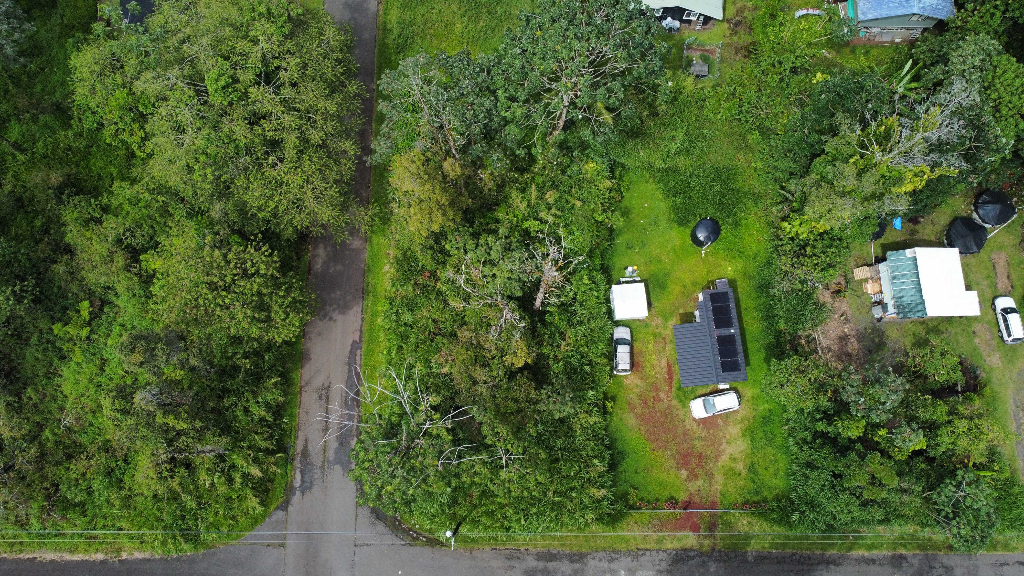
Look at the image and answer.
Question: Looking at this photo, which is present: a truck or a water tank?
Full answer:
I can see a water tank in this picture.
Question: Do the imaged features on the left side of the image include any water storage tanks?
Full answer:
No, the scene shows no water storage tank on the left side of the image.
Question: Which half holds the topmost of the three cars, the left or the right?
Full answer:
You can find the topmost of the three cars on the right side of the picture.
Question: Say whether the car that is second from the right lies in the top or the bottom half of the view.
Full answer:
The car that is second from the right sits in the bottom half of the picture.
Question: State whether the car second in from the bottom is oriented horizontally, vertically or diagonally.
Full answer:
The car second in from the bottom is laid out vertically.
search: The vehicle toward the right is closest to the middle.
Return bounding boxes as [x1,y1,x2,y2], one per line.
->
[611,325,635,378]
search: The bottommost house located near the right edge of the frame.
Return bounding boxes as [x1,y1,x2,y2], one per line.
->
[875,246,982,320]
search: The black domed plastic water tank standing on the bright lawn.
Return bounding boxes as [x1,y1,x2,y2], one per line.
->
[692,217,724,258]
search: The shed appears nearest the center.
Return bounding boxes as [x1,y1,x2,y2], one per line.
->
[609,282,648,321]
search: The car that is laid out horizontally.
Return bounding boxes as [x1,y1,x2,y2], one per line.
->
[688,388,744,419]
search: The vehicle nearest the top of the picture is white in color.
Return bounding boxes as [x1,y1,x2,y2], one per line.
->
[990,295,1024,347]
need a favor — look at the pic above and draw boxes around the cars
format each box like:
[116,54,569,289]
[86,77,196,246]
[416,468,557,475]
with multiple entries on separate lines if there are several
[688,388,744,419]
[990,295,1024,347]
[611,325,635,378]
